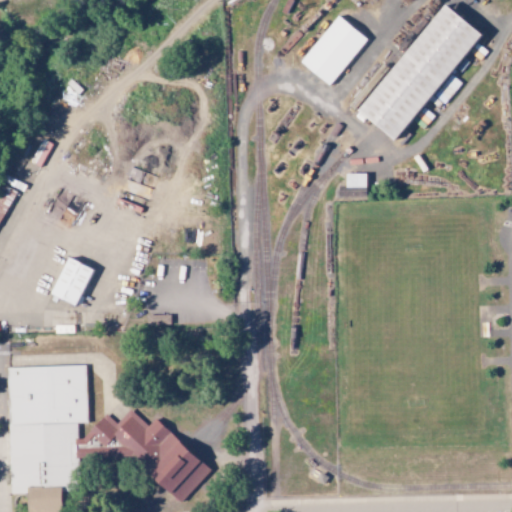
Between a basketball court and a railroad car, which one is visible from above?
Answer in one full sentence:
The image shows a railroad car.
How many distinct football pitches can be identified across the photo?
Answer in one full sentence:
I count just 1 football pitch.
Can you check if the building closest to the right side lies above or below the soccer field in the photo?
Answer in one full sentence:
Looking at the scene, the building closest to the right side is located above the soccer field.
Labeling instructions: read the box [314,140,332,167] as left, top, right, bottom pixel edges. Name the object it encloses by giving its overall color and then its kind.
gray rail car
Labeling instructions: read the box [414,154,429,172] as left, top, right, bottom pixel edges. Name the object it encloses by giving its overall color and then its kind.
white camper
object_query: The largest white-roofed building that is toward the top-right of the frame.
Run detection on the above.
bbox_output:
[358,4,482,140]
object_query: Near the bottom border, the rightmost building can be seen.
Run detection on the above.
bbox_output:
[78,410,212,500]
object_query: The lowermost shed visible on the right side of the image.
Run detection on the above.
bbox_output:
[338,173,368,197]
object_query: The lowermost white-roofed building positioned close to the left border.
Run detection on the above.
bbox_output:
[8,364,90,512]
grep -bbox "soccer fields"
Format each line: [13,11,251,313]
[324,180,508,460]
